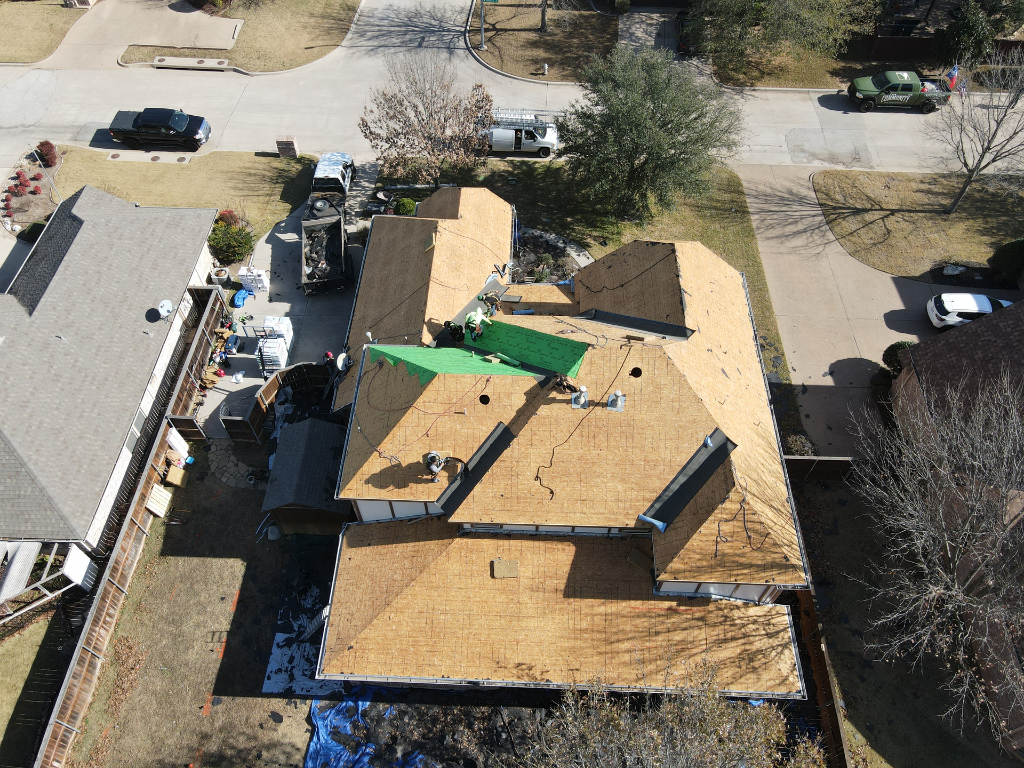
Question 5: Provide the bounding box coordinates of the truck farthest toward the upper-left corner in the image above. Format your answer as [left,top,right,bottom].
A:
[110,107,216,153]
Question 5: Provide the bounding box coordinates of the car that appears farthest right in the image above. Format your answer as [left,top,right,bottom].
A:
[913,290,1009,334]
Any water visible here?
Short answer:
No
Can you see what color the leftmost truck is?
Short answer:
black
